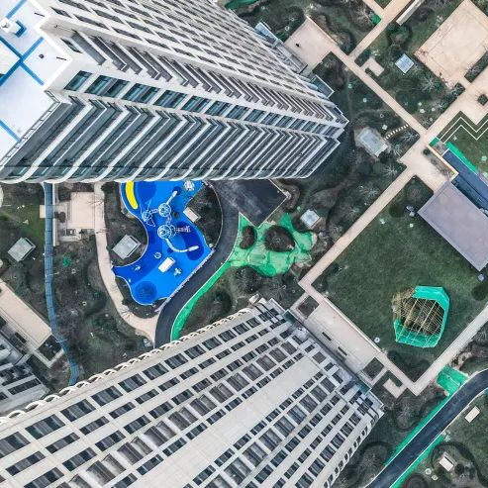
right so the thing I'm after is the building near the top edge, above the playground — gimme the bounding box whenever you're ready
[0,0,345,175]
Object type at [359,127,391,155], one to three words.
shed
